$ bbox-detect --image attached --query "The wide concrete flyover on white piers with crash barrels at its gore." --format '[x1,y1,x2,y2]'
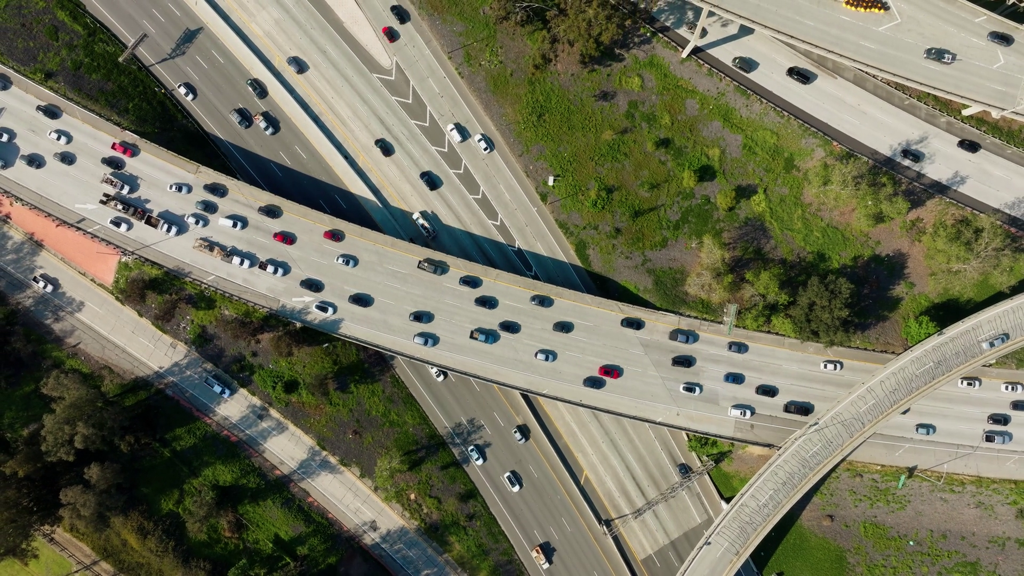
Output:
[680,0,1024,126]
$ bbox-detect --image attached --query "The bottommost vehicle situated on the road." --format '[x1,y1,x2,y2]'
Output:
[530,543,550,570]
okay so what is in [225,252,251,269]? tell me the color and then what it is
white vehicle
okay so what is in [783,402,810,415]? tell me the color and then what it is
black vehicle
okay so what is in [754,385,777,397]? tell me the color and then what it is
black vehicle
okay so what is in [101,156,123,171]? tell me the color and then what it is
black car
